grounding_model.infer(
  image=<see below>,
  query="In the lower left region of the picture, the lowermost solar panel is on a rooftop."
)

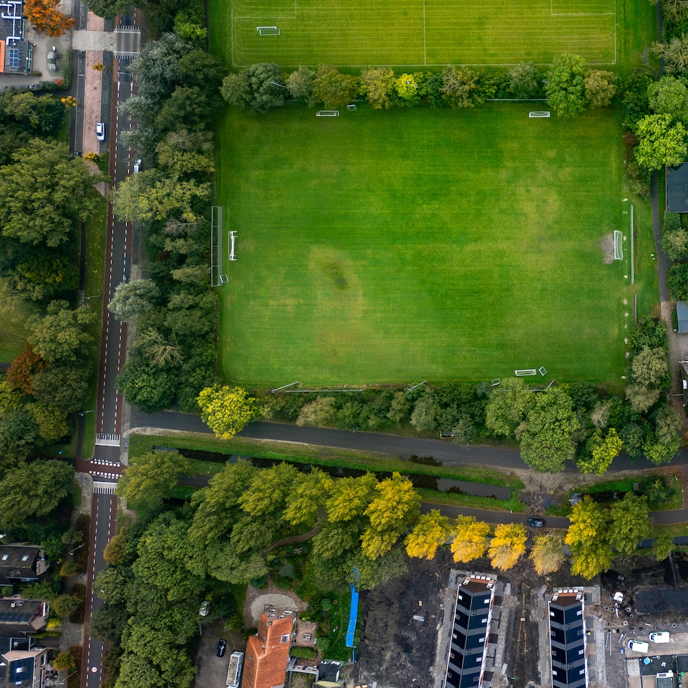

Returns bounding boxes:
[10,658,34,684]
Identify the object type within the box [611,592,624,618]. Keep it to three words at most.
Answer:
vehicle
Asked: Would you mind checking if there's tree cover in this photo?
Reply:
Yes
